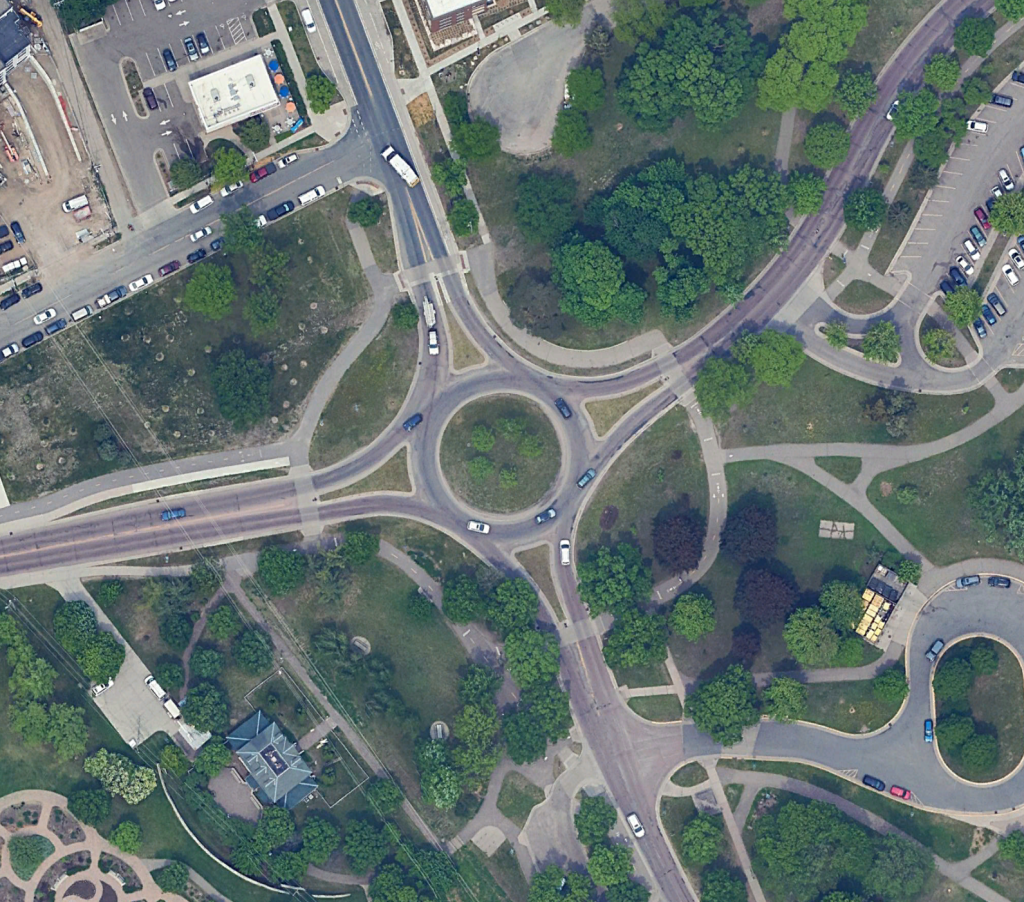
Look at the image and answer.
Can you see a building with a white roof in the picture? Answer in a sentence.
Yes, this view includes a building with a white roof.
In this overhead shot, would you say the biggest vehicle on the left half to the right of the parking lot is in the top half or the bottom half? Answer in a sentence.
It is in the top half that the biggest vehicle on the left half to the right of the parking lot appears.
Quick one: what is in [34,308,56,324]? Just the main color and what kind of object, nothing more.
white car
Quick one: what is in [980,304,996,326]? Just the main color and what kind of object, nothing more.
blue car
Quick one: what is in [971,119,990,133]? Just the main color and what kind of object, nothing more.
white vehicle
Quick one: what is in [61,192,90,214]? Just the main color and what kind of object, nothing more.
white truck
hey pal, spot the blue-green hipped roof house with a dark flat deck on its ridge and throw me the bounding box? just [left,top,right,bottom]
[226,710,318,809]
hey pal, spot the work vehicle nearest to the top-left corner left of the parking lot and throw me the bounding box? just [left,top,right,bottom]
[18,7,47,33]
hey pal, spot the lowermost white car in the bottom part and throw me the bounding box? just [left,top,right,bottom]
[627,814,643,836]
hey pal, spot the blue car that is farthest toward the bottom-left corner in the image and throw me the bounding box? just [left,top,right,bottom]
[163,508,185,520]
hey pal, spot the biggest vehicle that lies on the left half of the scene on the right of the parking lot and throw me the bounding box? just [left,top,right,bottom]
[378,146,422,190]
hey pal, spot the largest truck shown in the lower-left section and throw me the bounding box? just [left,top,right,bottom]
[145,675,169,703]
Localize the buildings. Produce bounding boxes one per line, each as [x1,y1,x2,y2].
[226,710,318,809]
[190,53,280,134]
[419,0,499,31]
[0,6,29,75]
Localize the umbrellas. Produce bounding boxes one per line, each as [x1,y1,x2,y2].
[269,60,278,70]
[274,74,284,84]
[286,102,295,112]
[279,87,289,96]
